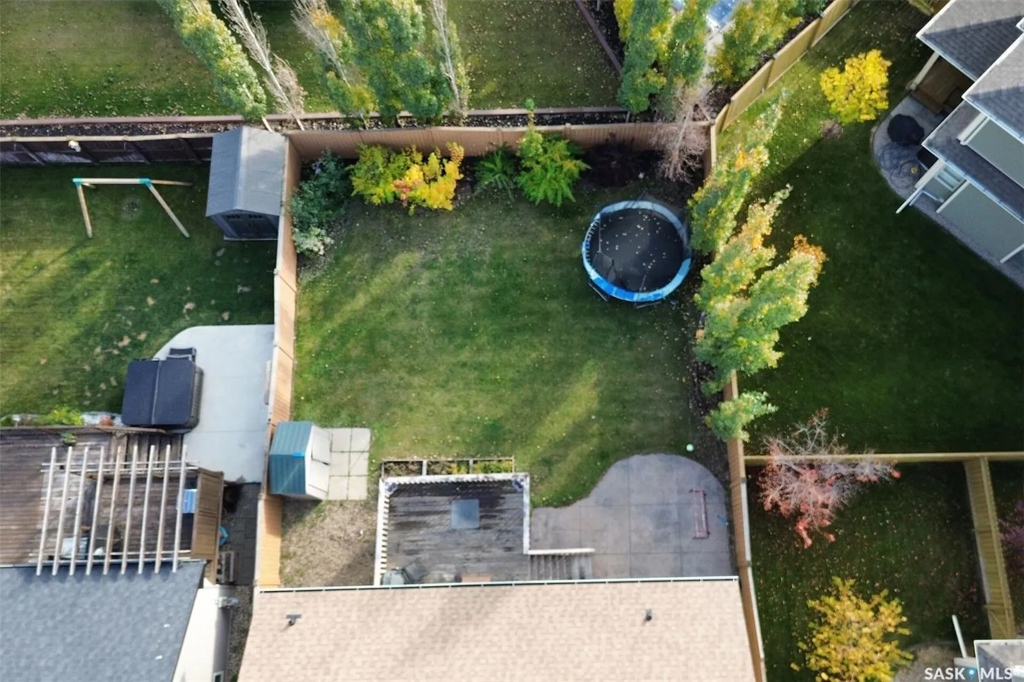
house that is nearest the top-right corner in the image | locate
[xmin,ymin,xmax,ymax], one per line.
[895,0,1024,279]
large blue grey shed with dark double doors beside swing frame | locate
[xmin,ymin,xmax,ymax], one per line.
[200,124,285,241]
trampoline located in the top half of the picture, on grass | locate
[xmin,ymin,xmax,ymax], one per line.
[579,186,693,312]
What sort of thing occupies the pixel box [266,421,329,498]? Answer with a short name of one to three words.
shed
